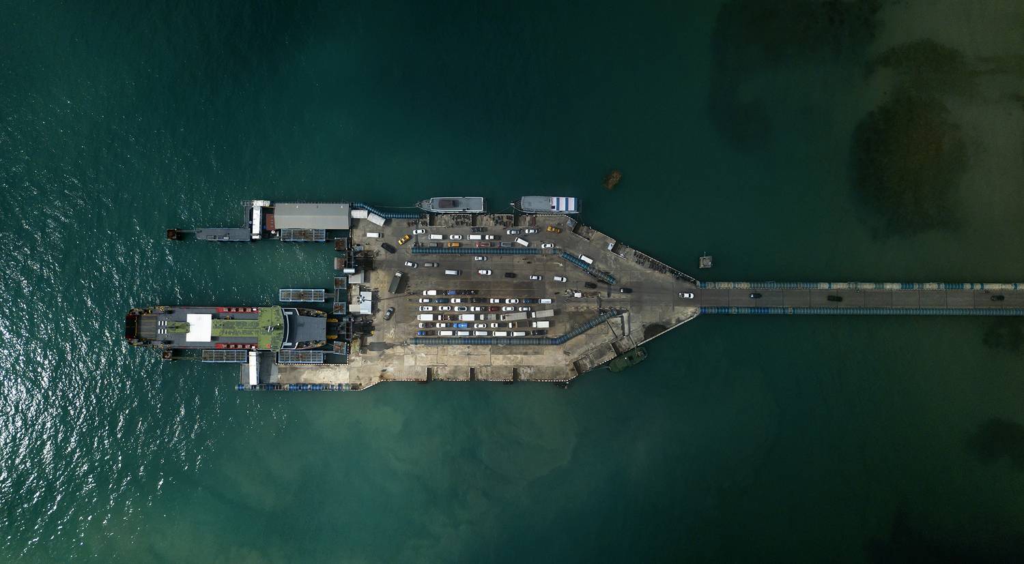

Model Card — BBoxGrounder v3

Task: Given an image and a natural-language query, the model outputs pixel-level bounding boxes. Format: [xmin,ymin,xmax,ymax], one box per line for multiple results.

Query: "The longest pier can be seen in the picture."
[241,204,702,390]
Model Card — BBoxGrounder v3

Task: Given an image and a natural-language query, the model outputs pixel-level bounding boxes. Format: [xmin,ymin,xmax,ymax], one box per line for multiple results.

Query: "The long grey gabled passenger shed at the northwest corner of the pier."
[273,200,351,229]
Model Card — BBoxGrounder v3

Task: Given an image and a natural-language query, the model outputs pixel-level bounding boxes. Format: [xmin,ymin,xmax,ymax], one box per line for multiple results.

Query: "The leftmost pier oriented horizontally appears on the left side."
[196,228,252,241]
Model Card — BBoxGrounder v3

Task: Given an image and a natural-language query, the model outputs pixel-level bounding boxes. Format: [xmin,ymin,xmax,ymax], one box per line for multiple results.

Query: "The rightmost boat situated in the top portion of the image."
[510,196,581,214]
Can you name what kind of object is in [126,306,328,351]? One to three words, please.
ship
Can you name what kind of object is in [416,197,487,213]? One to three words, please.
boat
